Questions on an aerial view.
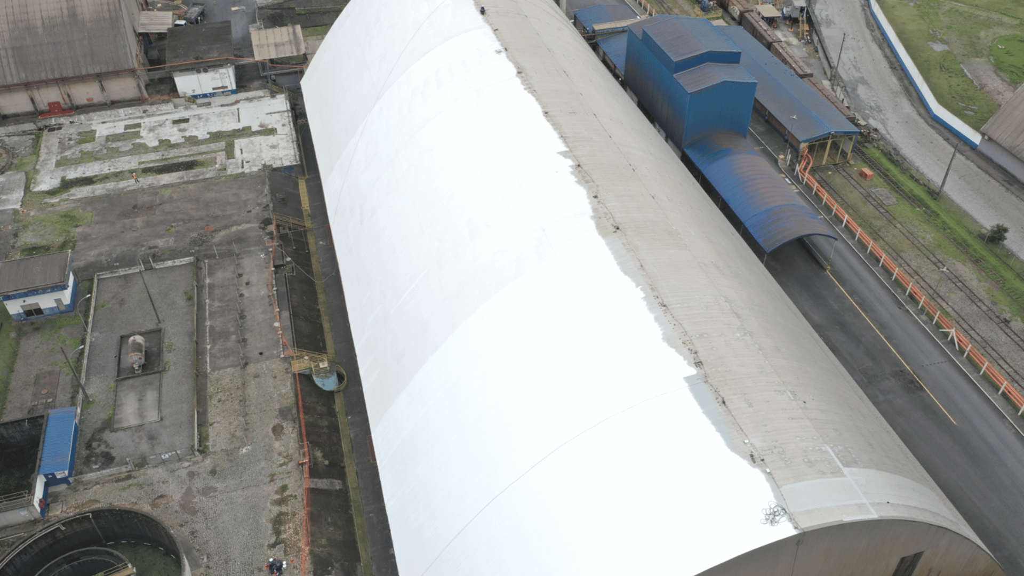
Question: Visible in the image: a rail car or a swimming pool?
rail car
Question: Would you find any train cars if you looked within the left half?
No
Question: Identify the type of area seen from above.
industrial area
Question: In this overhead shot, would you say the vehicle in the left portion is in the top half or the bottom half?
top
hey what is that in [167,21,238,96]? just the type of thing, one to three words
building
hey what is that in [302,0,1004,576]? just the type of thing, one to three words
warehouse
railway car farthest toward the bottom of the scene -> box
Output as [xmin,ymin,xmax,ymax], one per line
[802,78,853,123]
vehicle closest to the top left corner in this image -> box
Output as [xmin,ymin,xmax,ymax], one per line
[180,6,206,26]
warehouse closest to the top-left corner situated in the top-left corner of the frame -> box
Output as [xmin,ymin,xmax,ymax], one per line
[0,0,145,120]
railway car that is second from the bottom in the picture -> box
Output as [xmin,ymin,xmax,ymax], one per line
[772,44,814,79]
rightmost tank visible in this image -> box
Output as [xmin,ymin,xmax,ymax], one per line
[309,361,339,399]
